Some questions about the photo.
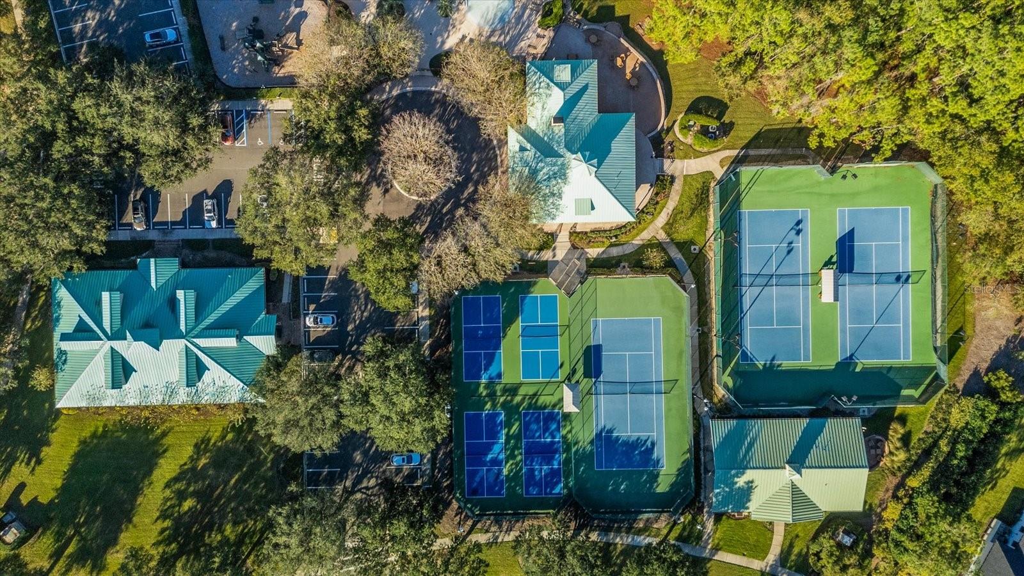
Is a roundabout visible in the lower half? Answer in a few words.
No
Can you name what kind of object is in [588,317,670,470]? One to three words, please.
tennis court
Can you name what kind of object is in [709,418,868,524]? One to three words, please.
building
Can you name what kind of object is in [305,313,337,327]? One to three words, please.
car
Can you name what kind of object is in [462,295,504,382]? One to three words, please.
sports court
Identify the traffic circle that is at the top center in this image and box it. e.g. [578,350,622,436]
[350,69,506,230]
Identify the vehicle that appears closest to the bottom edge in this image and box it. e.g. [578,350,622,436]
[389,452,421,467]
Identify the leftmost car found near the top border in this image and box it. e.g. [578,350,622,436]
[143,27,179,46]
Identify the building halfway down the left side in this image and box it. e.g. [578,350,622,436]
[52,256,283,409]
